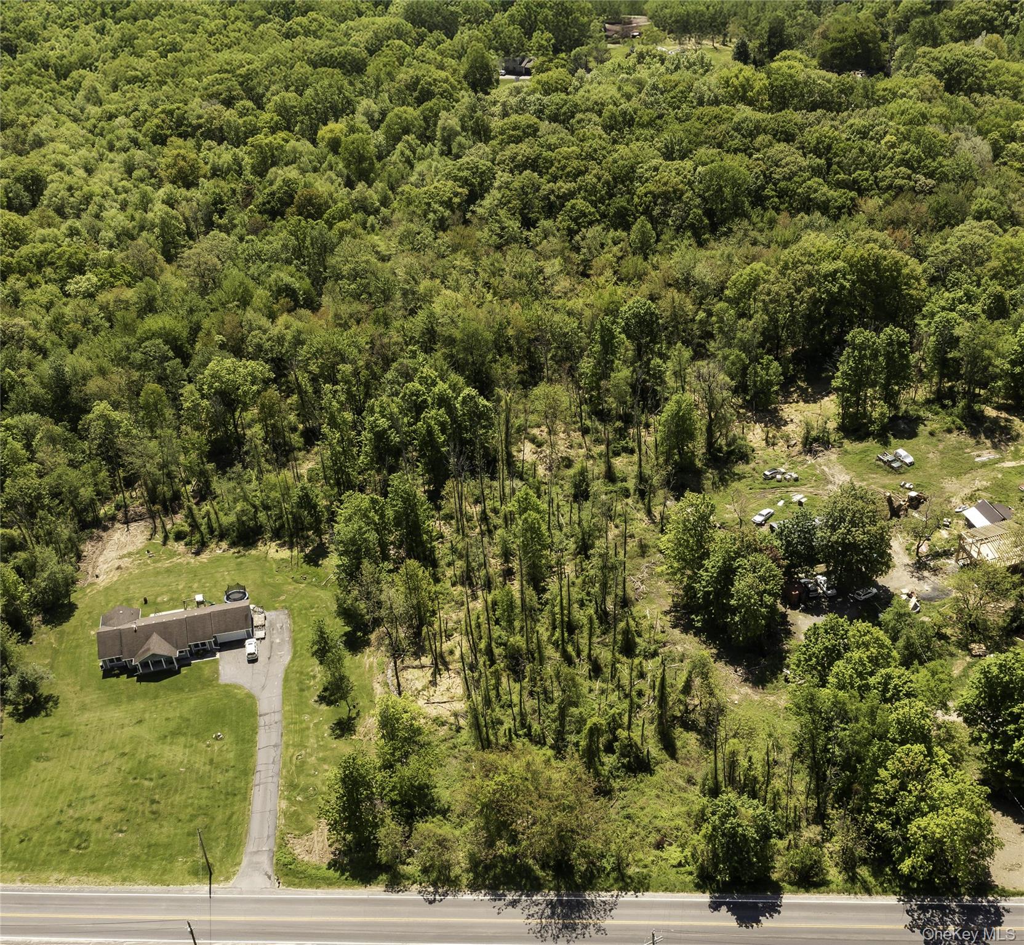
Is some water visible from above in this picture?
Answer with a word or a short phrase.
No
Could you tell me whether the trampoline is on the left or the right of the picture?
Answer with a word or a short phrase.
left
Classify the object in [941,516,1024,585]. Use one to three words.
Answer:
building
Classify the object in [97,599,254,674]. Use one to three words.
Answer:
house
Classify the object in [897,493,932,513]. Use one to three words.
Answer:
work vehicle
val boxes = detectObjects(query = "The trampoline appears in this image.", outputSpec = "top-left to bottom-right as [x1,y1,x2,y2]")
[224,583,248,603]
